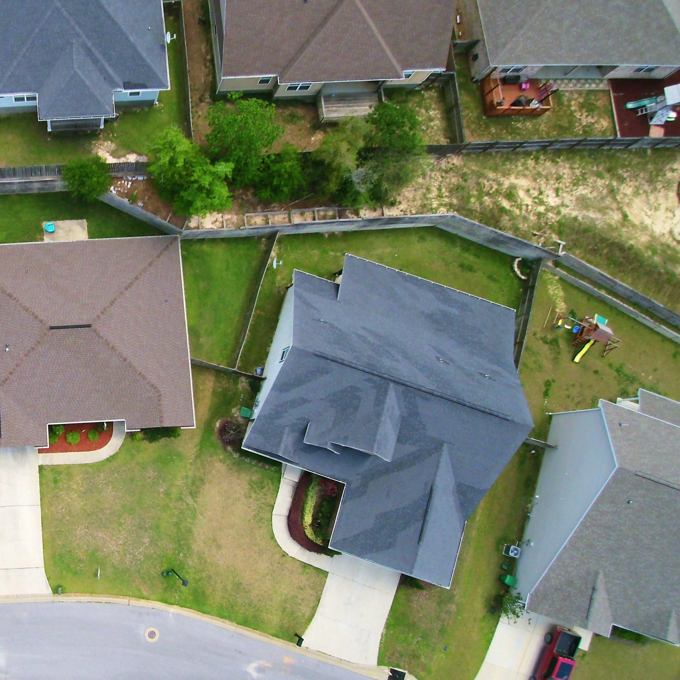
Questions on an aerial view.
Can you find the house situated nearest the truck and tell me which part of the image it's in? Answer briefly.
bottom right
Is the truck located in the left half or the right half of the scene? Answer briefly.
right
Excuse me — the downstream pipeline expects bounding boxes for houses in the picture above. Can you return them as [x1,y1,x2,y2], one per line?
[0,234,196,451]
[505,388,680,647]
[237,253,535,591]
[458,0,680,81]
[204,0,458,97]
[0,0,171,134]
